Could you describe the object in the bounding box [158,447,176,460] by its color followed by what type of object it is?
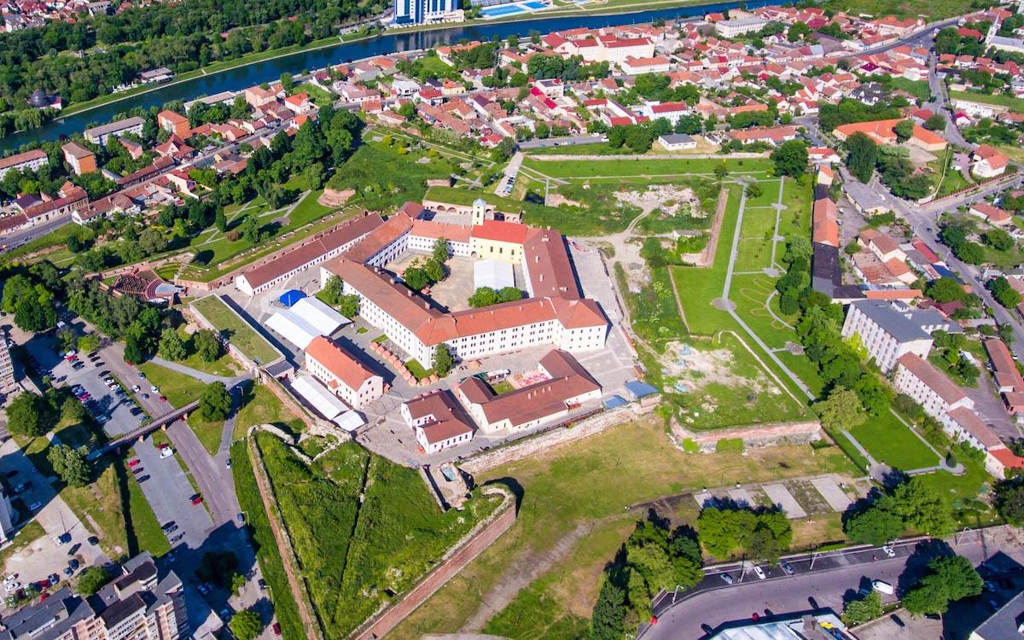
white vehicle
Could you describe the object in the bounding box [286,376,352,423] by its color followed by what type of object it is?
white tent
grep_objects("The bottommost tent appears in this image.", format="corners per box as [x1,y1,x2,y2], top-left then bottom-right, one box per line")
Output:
[329,413,368,440]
